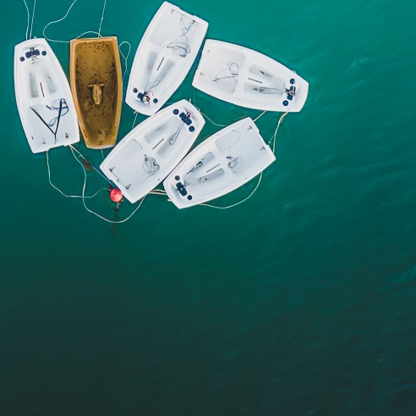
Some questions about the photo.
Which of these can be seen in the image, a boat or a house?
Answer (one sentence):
This aerial view contains a boat.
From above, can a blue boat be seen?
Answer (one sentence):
No, the scene contains no blue boat.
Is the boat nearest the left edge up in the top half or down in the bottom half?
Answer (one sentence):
It is in the top half that the boat nearest the left edge appears.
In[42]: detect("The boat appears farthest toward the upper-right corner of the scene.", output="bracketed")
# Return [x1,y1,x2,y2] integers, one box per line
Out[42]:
[192,39,307,113]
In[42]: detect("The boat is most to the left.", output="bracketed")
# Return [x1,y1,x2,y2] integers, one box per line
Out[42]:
[14,39,79,151]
